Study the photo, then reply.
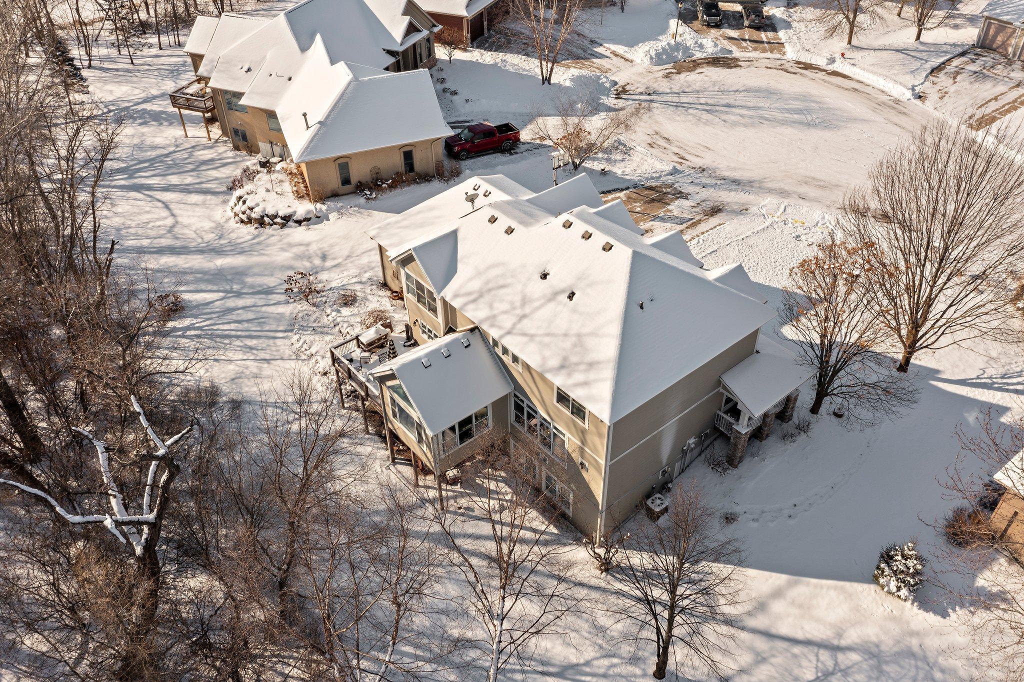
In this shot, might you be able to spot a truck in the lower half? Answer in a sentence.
No, I see no truck in the lower half.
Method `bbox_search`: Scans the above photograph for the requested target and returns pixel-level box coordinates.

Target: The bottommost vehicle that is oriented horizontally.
[441,123,522,162]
